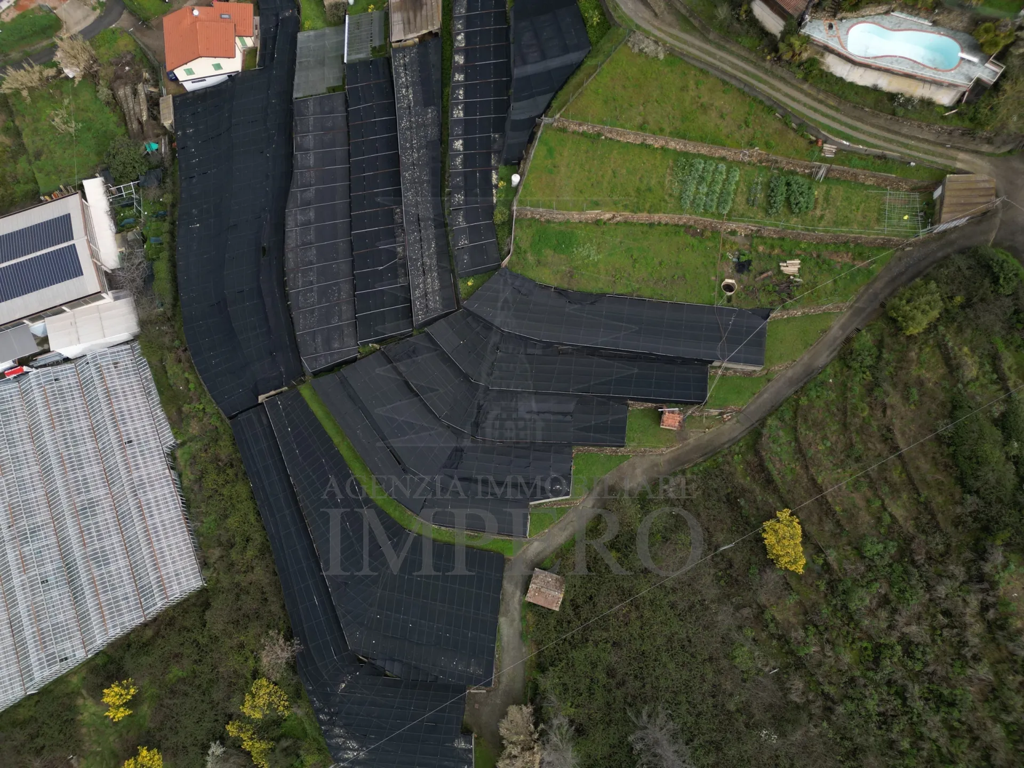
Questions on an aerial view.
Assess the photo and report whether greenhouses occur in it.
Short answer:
Yes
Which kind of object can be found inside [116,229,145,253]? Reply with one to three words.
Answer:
shed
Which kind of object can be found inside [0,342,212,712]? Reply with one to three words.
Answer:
greenhouse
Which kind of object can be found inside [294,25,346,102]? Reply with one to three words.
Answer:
greenhouse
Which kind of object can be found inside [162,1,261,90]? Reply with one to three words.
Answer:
house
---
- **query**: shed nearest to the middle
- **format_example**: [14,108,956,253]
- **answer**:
[658,408,683,432]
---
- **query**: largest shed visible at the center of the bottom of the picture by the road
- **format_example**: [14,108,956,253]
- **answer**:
[525,568,564,611]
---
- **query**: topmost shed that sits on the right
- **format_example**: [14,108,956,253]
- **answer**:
[751,0,808,47]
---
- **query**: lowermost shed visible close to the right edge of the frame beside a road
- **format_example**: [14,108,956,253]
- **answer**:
[936,175,996,225]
